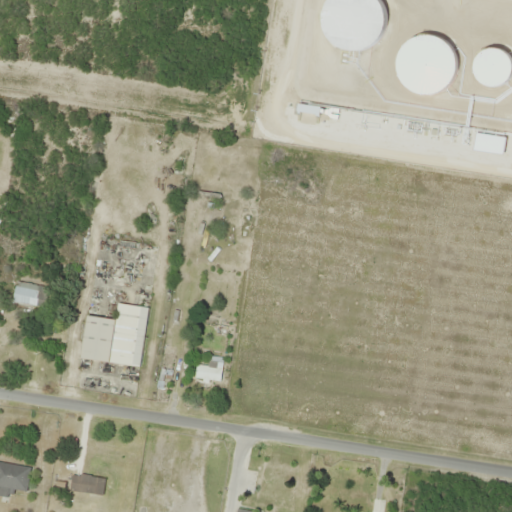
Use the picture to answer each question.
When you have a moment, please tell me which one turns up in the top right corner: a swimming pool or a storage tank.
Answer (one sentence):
Looking in the top right corner, you will find a storage tank.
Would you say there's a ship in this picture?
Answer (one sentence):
No, I can see no ship in this picture.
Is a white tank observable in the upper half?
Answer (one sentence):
Yes, there is a white tank in the upper half.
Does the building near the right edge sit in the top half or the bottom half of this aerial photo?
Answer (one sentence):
You can find the building near the right edge in the top half.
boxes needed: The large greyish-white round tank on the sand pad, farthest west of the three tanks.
[322,0,389,53]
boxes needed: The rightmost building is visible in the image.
[474,134,506,154]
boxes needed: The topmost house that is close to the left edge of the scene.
[14,282,47,308]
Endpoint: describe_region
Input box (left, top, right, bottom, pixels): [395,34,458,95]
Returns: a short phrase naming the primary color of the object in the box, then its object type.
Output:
white storage tank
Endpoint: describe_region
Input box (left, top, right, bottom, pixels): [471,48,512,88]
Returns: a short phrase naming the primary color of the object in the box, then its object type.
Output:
white storage tank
